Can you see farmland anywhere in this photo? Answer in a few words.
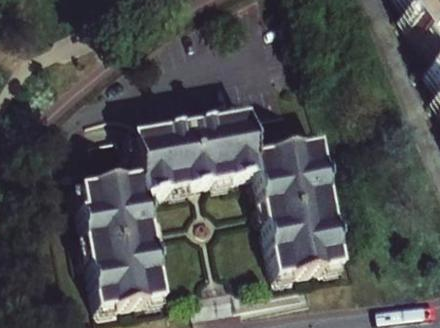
No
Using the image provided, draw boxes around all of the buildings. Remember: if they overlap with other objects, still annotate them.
[74,108,350,326]
[394,0,440,122]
